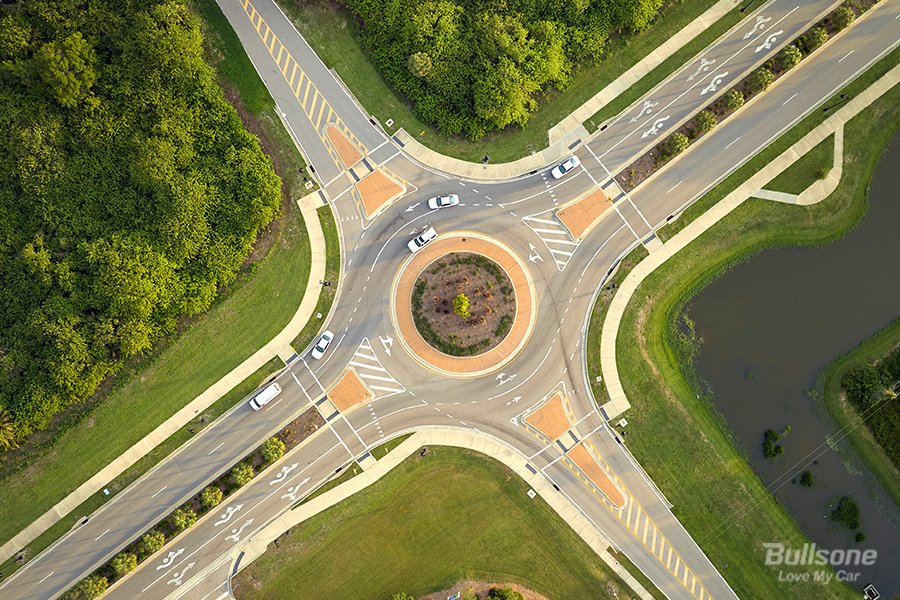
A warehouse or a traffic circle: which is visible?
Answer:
traffic circle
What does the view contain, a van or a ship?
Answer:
van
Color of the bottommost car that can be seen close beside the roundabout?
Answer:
white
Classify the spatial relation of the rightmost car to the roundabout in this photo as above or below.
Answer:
above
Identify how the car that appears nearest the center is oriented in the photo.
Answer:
on a diagonal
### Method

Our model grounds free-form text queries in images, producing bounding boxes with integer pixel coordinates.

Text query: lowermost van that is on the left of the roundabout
[249,381,283,412]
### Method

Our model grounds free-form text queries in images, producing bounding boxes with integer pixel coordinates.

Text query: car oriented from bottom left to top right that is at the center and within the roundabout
[407,227,438,252]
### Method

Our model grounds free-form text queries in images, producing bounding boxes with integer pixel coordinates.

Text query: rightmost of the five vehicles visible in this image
[550,154,582,180]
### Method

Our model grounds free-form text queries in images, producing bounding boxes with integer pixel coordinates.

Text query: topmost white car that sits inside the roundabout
[427,193,460,209]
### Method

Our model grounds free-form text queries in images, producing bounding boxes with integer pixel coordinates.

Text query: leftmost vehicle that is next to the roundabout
[310,329,335,360]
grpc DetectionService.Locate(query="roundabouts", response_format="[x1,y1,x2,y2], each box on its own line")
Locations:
[344,184,584,424]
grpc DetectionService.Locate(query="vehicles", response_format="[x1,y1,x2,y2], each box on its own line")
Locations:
[249,381,283,412]
[310,329,335,360]
[550,154,582,180]
[427,193,460,209]
[407,227,438,252]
